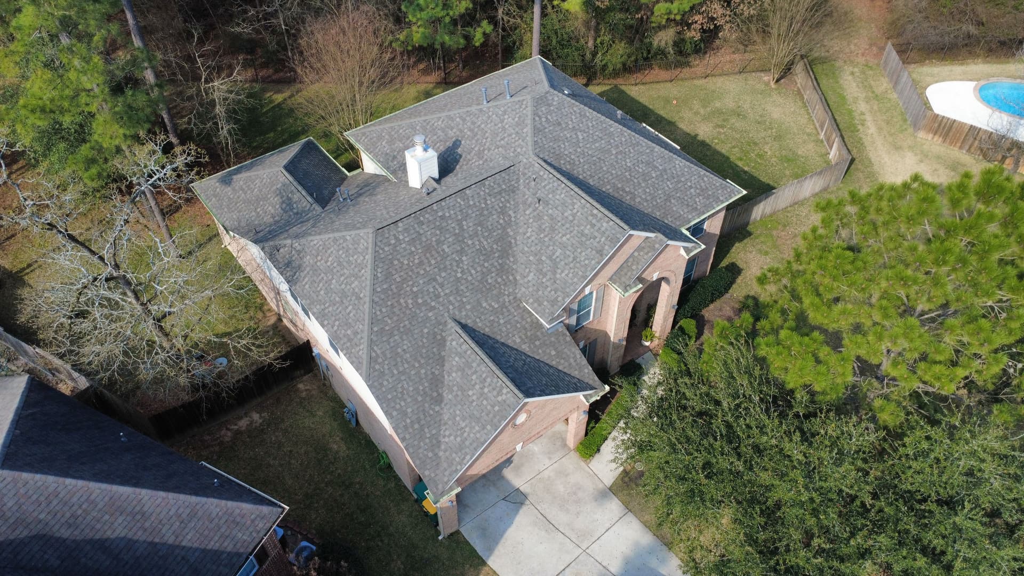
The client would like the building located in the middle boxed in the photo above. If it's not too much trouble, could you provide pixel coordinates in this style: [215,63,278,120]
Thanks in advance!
[191,56,749,544]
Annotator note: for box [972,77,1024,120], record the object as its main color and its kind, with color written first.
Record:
blue swimming pool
